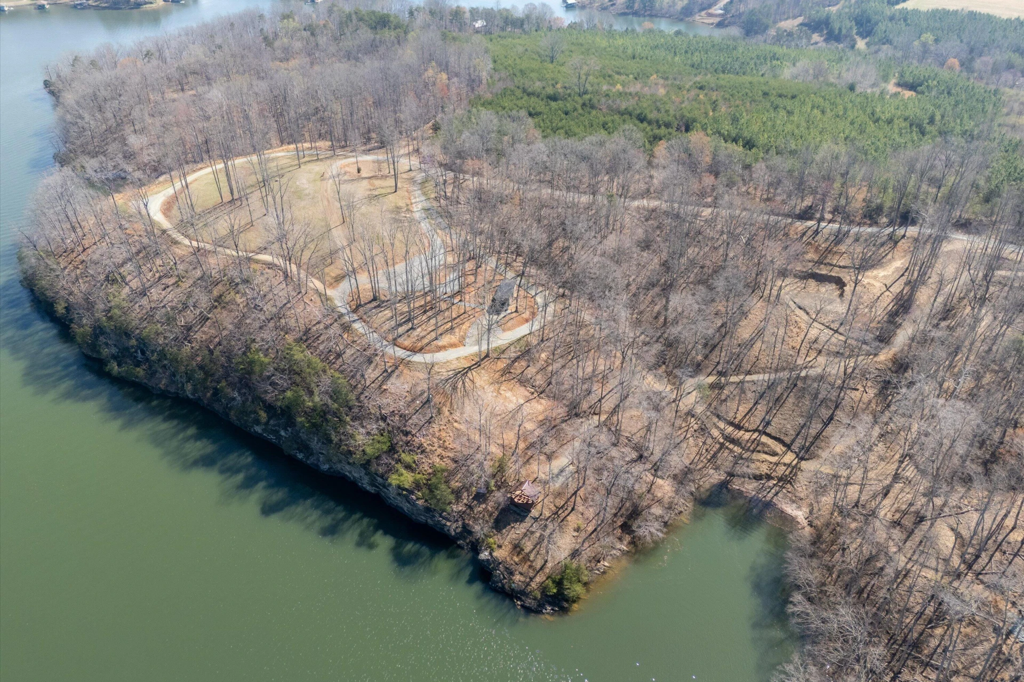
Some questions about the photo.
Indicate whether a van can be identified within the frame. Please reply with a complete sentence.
No, I find no van anywhere in the image.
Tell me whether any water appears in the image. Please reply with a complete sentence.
Yes, the picture does contain water.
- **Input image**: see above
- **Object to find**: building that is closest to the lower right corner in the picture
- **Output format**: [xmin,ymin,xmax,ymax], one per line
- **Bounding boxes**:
[510,476,541,515]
